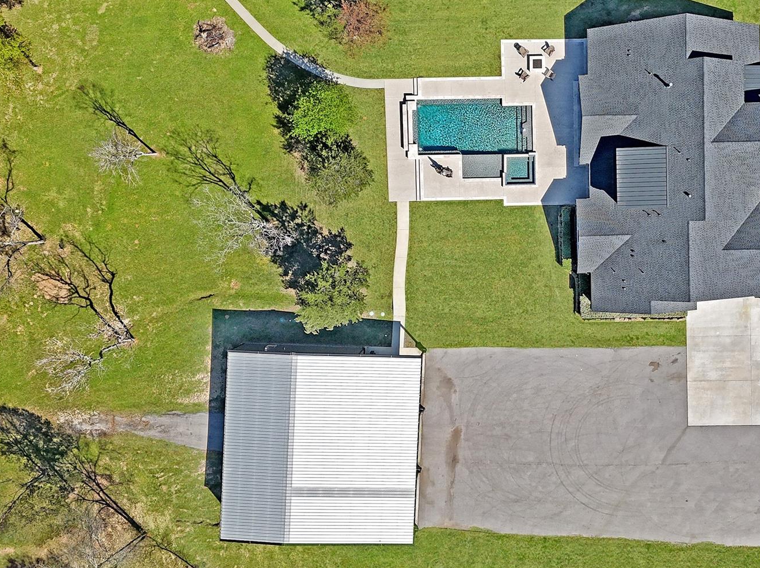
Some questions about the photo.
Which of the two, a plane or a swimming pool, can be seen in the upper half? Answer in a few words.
swimming pool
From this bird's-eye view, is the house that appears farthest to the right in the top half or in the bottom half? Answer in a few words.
top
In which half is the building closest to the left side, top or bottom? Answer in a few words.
bottom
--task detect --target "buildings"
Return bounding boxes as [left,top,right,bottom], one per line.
[576,14,760,313]
[220,343,424,550]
